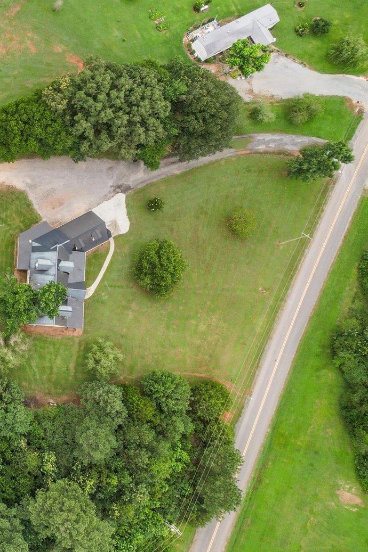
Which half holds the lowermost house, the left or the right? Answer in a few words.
left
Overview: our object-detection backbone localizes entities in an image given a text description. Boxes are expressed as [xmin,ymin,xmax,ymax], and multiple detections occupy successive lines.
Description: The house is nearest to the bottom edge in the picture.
[16,210,112,328]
